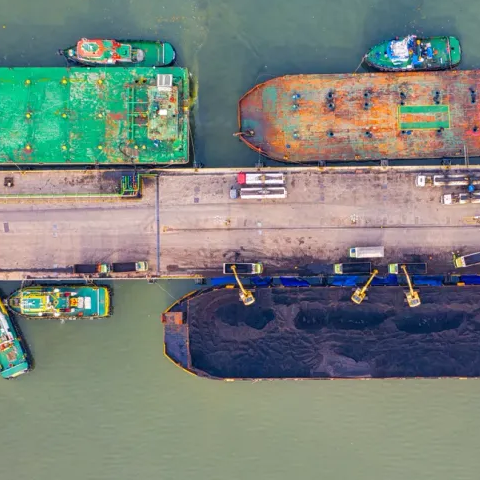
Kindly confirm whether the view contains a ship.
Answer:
Yes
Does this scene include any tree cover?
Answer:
No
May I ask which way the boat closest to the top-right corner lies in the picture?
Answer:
from left to right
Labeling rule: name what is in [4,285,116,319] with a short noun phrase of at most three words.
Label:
boat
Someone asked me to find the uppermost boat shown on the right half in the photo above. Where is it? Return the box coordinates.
[364,33,464,72]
